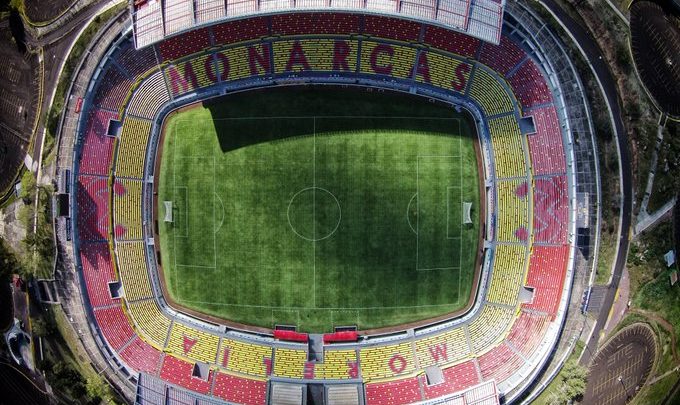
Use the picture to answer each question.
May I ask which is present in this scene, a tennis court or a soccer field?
soccer field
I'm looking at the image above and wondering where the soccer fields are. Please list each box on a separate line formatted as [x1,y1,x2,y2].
[153,84,485,339]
